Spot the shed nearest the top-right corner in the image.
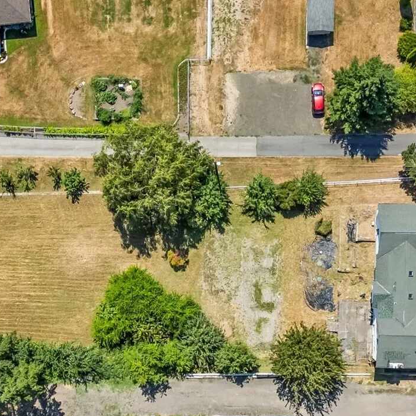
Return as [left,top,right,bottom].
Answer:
[305,0,334,38]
